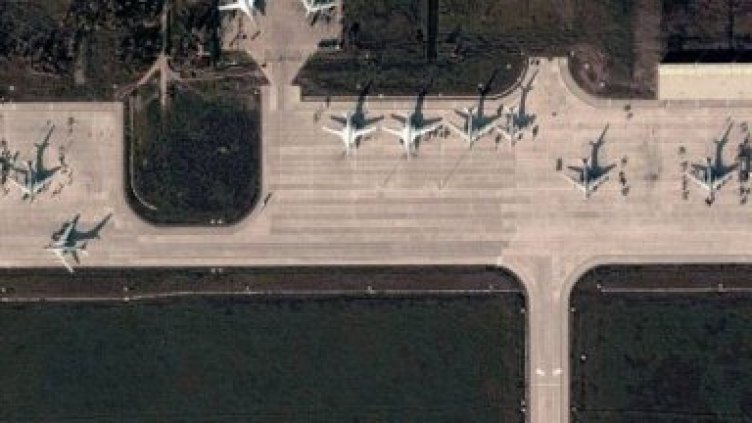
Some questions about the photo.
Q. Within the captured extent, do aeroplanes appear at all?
Yes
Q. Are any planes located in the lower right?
No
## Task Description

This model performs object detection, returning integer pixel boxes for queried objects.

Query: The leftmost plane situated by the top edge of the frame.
[215,0,253,24]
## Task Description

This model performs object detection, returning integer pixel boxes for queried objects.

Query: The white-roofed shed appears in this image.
[658,63,752,99]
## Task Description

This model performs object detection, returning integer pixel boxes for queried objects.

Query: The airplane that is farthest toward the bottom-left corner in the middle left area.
[44,224,87,270]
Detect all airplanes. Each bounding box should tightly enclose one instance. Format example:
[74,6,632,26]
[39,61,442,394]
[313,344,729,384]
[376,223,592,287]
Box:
[8,156,54,199]
[302,0,339,18]
[687,155,734,200]
[44,224,87,270]
[215,0,253,24]
[563,156,610,198]
[382,108,437,159]
[322,106,377,157]
[496,107,529,148]
[446,105,496,150]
